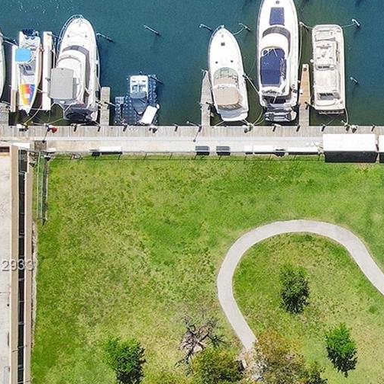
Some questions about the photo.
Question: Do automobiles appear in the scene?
No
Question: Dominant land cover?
grass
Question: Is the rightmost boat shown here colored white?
Yes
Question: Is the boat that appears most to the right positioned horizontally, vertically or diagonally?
vertically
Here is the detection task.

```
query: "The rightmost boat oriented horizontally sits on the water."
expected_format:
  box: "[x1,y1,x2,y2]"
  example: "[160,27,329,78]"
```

[259,107,297,122]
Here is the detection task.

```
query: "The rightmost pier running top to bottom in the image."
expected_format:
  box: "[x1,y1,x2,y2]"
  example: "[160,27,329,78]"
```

[298,63,312,125]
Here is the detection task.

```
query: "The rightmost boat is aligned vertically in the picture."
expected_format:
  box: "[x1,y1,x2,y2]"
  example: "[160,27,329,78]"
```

[310,21,348,118]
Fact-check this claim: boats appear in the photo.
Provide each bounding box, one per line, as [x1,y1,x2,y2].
[310,21,348,118]
[49,10,107,122]
[131,75,151,114]
[208,19,253,125]
[0,26,11,103]
[12,21,43,116]
[259,107,297,122]
[254,0,304,125]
